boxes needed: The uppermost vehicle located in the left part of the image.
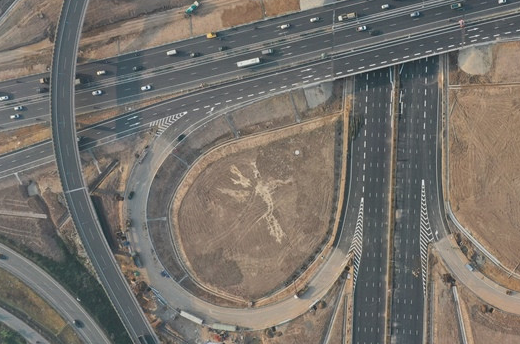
[183,0,201,15]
